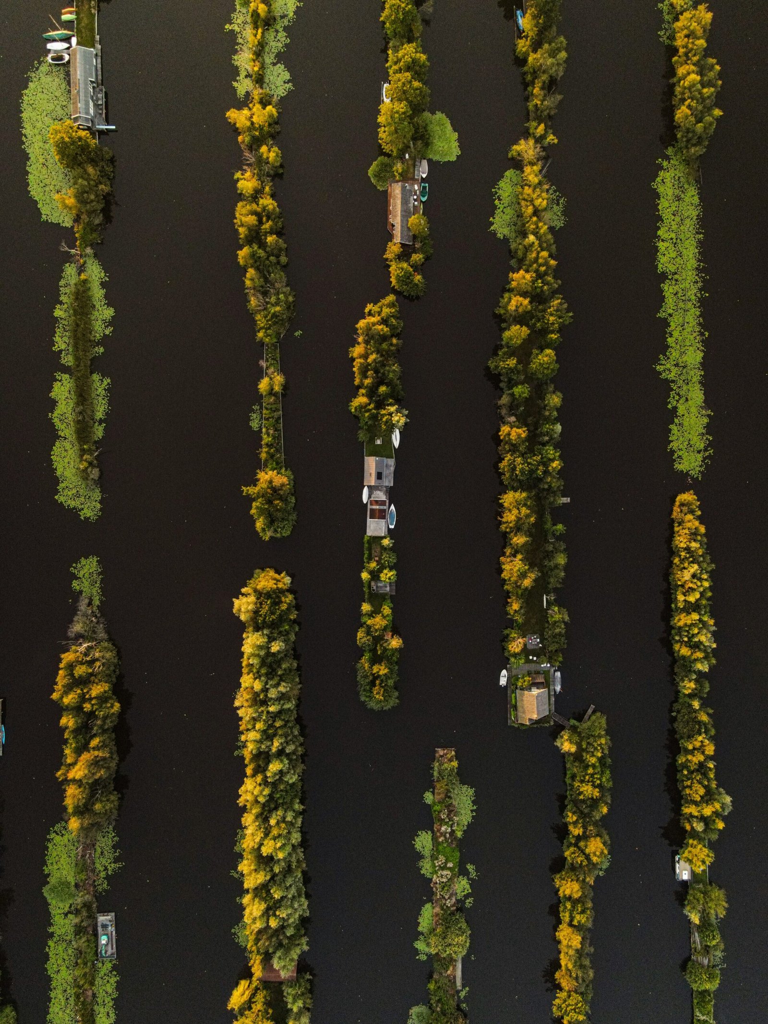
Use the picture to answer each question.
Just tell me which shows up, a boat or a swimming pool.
boat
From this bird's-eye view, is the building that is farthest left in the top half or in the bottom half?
top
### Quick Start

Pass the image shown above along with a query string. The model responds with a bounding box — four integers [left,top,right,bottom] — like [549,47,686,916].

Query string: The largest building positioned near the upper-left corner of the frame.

[70,45,97,128]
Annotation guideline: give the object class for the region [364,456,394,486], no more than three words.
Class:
house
